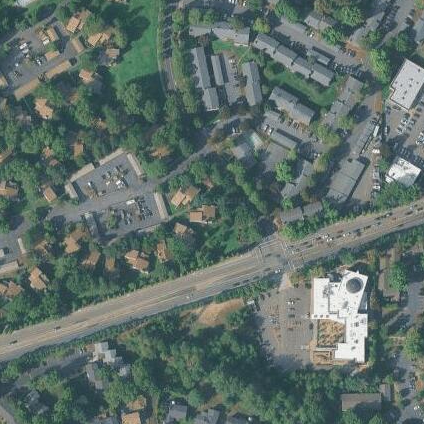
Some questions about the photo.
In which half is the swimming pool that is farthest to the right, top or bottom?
top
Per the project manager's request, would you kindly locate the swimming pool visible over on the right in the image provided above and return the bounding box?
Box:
[245,131,266,150]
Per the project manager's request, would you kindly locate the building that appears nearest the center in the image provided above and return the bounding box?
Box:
[190,203,215,224]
